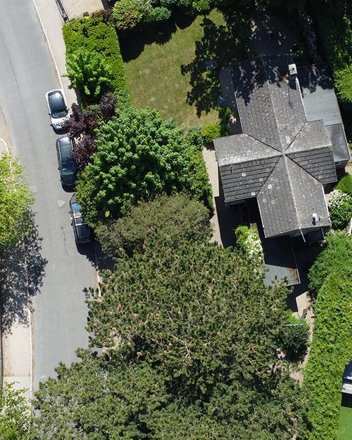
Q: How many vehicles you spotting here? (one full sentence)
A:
I count 3 vehicles.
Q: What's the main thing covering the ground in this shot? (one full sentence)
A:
For the most part, this view shows trees.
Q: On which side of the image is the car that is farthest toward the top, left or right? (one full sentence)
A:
You can find the car that is farthest toward the top on the left side of the picture.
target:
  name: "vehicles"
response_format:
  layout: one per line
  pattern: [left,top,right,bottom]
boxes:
[65,191,96,247]
[44,88,70,134]
[52,136,81,194]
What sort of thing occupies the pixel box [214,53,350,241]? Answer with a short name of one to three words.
house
